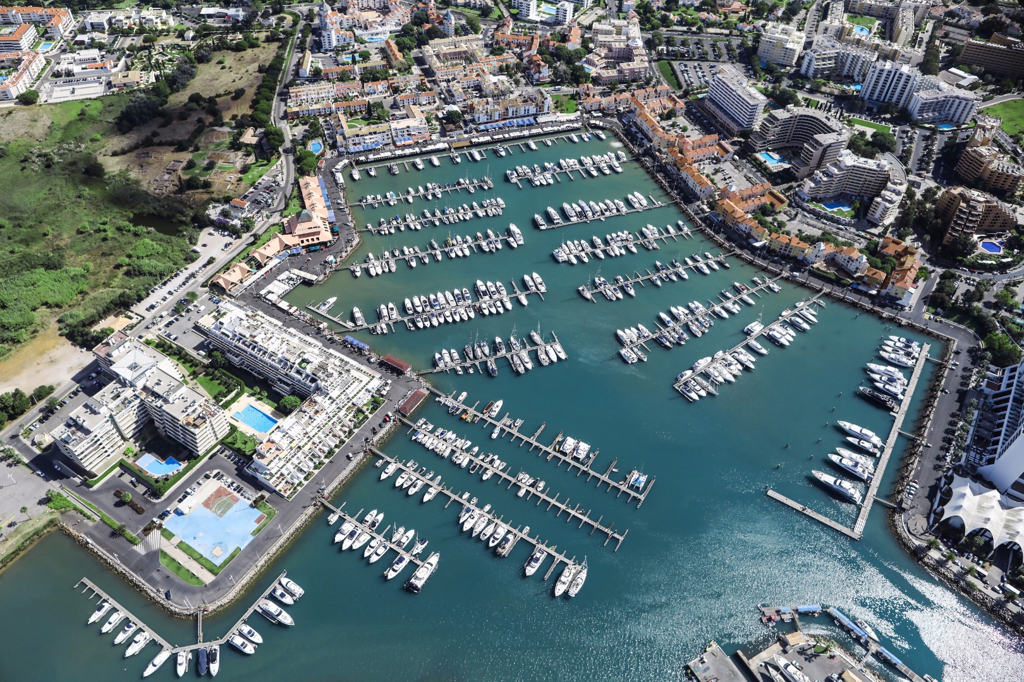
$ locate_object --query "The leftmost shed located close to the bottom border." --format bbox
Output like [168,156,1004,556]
[783,628,806,651]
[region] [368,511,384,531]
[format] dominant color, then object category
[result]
white boat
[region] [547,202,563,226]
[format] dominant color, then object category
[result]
white boat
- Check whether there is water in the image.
Yes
